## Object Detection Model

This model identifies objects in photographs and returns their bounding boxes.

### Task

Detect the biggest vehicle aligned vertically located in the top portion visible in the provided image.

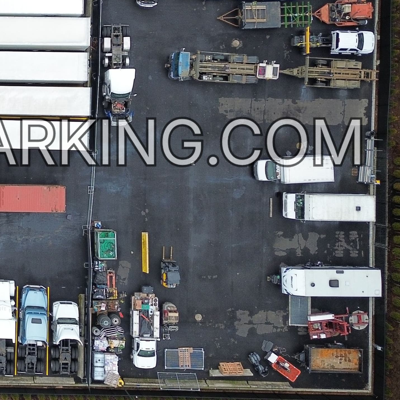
[102,24,139,127]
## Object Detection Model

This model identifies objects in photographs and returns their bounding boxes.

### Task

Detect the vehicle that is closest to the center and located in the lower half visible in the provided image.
[160,246,179,289]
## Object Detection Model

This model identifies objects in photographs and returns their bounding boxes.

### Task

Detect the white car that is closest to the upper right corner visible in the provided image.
[327,28,374,54]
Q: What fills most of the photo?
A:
paved ground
